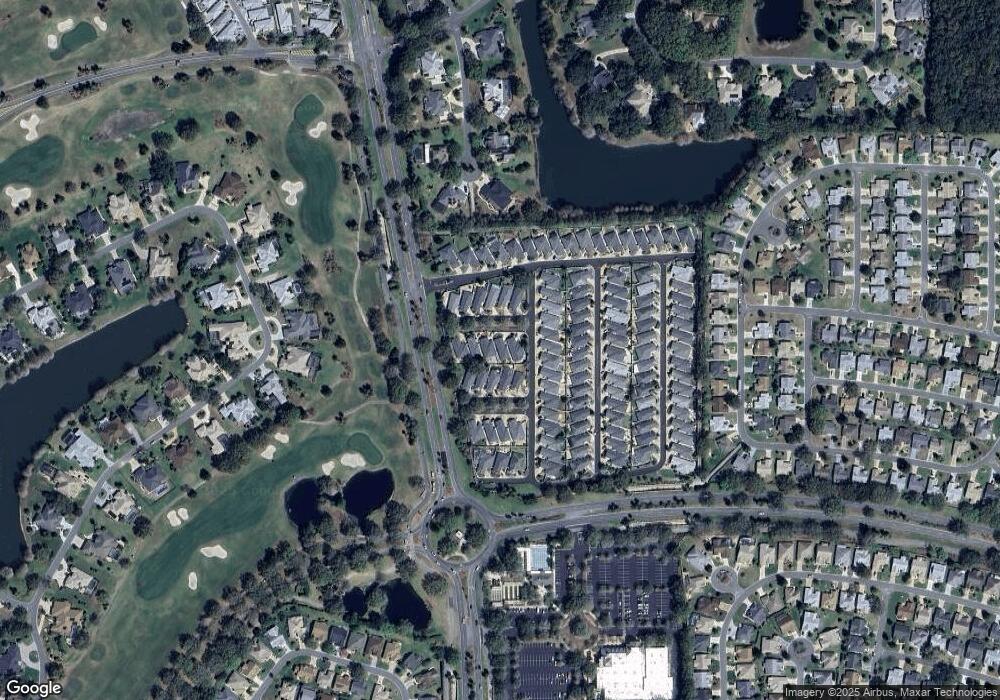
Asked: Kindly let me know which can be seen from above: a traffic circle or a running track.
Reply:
traffic circle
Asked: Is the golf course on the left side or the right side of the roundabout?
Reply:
on its left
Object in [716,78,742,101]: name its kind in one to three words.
house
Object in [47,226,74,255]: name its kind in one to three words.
house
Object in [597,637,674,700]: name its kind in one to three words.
building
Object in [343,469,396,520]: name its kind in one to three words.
pond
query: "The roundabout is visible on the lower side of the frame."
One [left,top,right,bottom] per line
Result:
[418,494,497,574]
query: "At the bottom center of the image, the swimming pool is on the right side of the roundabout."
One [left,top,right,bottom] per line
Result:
[519,544,551,576]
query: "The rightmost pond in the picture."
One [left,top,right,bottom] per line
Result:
[754,0,805,41]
